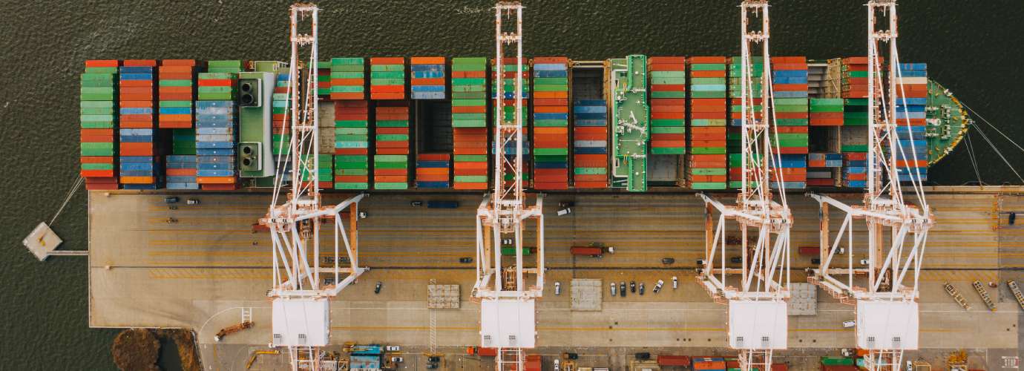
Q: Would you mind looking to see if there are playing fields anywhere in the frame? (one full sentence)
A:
No, there isn't any playing field down there.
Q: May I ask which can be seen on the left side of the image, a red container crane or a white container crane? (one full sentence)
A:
You can see a white container crane on the left side of the image.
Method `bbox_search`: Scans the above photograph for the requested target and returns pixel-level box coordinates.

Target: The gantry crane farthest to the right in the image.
[800,1,938,371]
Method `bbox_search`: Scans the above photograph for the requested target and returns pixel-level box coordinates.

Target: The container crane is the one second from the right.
[691,1,798,371]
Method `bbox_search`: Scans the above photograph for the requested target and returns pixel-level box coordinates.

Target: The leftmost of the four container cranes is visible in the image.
[255,1,377,371]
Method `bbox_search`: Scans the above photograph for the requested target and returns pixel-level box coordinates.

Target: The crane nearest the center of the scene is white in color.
[466,1,552,371]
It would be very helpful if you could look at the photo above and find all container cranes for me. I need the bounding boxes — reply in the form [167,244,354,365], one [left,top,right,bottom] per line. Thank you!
[691,1,798,371]
[255,1,377,371]
[800,1,938,371]
[466,1,552,371]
